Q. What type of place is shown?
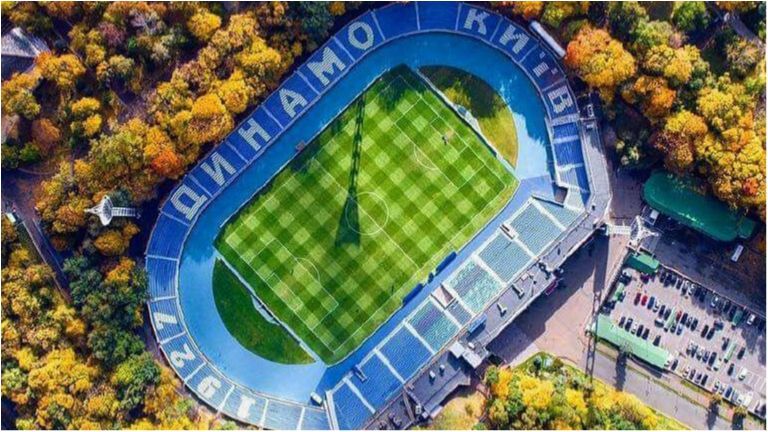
sports ground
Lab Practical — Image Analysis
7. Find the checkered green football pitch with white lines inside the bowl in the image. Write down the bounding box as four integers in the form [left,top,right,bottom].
[213,63,519,366]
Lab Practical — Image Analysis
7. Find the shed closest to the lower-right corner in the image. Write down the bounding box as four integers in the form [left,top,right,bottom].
[596,315,669,368]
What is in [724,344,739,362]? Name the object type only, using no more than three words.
vehicle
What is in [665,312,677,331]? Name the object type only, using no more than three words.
vehicle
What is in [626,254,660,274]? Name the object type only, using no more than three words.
house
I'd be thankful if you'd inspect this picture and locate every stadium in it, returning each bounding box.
[144,0,611,432]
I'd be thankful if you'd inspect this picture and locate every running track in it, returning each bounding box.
[178,31,563,408]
